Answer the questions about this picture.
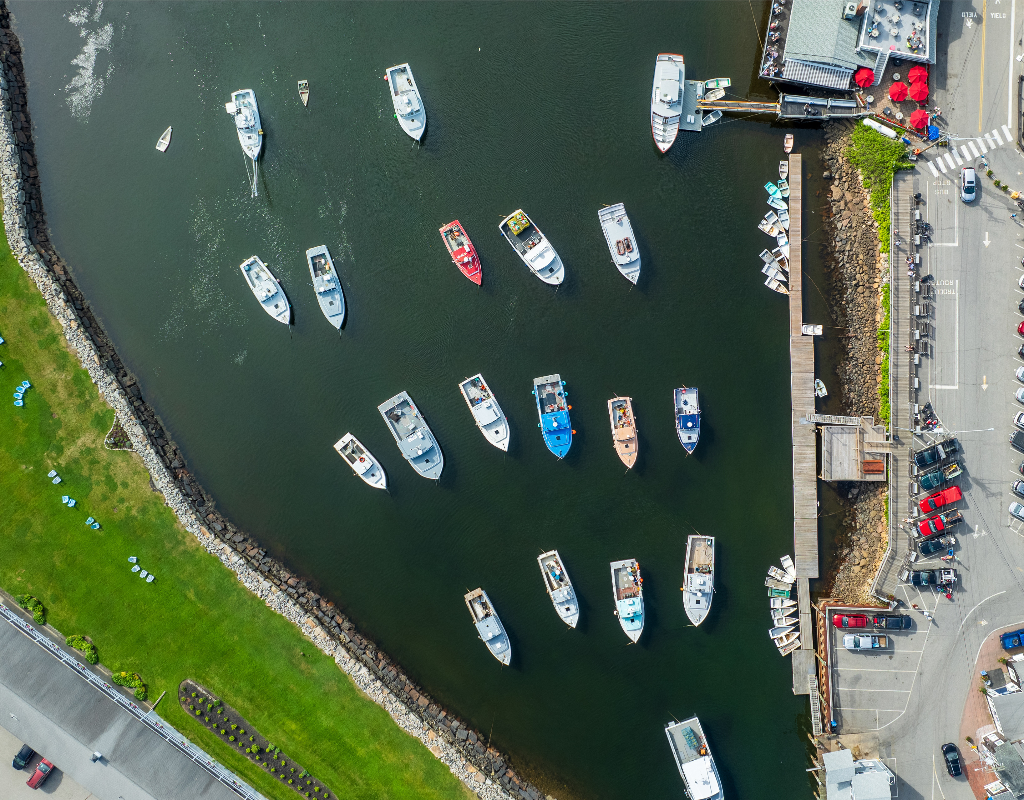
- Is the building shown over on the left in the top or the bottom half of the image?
bottom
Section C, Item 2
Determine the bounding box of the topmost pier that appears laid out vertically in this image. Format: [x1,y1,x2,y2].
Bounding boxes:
[678,80,706,132]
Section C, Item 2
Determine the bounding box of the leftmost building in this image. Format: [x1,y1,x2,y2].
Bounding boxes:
[0,597,263,800]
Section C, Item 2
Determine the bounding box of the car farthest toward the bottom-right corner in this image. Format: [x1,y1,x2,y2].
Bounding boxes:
[939,741,964,778]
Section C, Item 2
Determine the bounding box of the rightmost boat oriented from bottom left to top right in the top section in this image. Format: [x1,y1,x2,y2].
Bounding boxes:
[702,110,722,125]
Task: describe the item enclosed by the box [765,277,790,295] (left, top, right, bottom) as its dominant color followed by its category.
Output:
white boat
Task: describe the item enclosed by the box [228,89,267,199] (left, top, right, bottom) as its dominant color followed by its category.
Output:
white boat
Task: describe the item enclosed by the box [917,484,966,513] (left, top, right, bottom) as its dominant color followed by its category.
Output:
red truck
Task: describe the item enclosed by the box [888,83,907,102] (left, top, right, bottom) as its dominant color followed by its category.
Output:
red umbrella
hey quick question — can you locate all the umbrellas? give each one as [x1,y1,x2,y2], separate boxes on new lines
[908,83,928,102]
[908,110,928,129]
[888,83,907,102]
[854,70,873,88]
[907,66,927,84]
